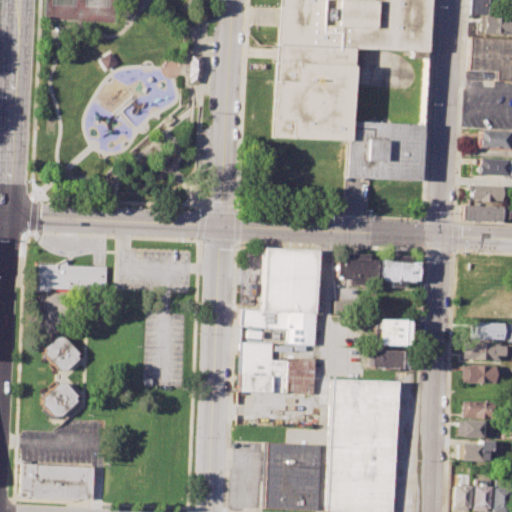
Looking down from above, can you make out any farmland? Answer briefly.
No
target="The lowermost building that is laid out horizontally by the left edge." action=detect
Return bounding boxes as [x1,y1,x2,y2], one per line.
[17,466,96,500]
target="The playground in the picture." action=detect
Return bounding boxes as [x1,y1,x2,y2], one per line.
[82,61,182,156]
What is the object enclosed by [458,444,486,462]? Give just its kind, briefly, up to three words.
house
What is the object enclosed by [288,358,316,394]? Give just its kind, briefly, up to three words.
shed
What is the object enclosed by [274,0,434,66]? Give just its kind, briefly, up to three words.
building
